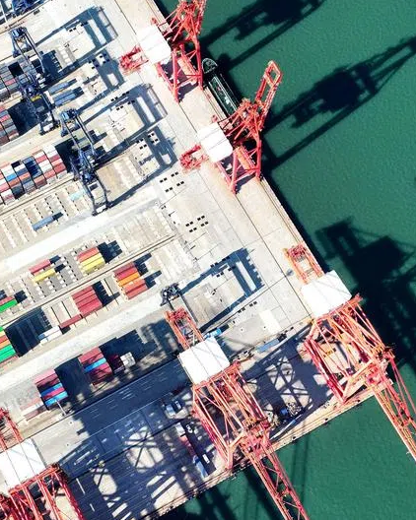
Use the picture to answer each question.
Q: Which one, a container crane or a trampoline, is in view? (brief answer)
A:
container crane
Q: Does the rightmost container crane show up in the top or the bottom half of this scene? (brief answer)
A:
bottom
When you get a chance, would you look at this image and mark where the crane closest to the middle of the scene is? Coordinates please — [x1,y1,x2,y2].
[156,284,198,350]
